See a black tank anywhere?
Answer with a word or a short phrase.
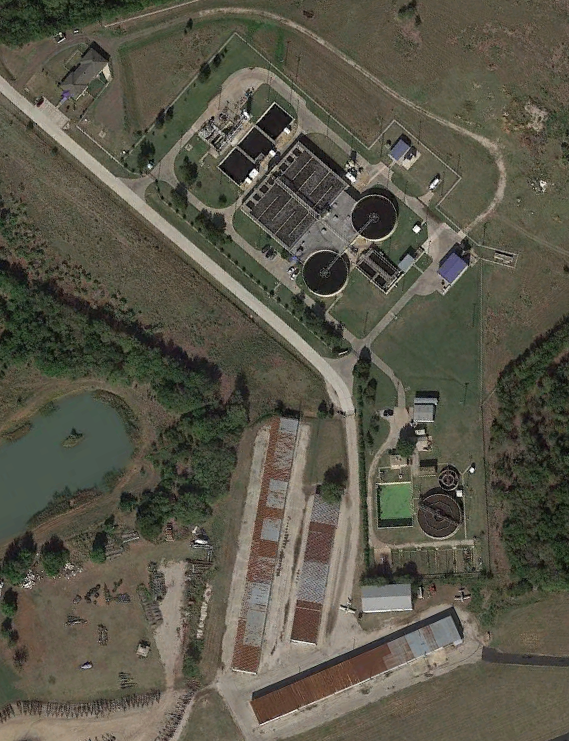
Yes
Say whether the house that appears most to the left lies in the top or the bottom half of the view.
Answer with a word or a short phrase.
top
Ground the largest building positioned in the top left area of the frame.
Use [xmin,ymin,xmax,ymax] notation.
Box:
[60,46,109,100]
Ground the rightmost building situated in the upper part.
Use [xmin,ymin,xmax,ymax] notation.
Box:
[437,252,469,287]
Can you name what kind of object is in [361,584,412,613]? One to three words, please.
shed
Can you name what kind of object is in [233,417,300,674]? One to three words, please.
hangar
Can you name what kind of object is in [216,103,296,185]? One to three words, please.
storage tank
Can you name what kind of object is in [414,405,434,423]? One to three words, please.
building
